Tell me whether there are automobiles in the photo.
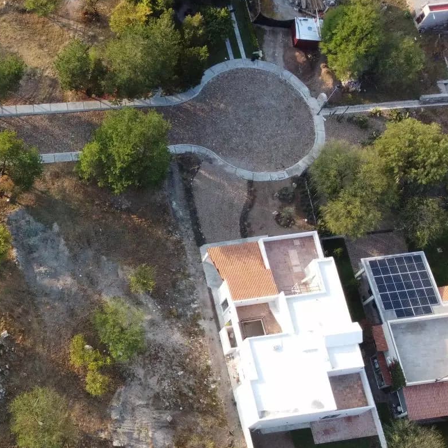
No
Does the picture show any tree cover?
Yes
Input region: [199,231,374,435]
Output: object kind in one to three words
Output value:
house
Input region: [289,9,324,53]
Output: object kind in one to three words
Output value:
shed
